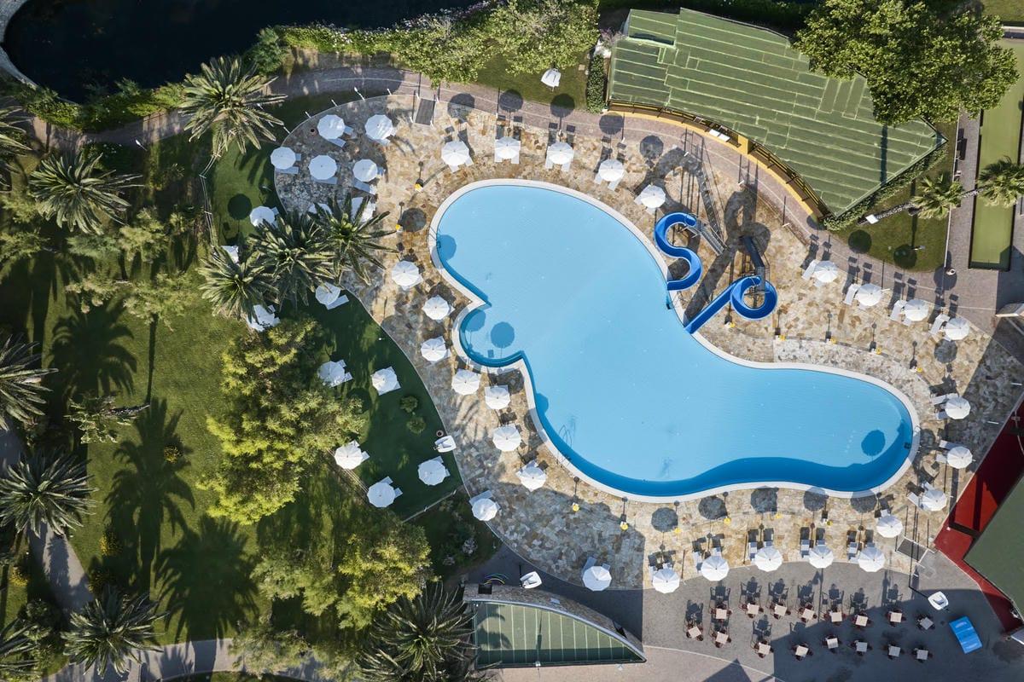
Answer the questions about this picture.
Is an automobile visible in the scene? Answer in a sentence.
No, there appears to be no automobile in this shot.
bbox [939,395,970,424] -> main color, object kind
white umbrella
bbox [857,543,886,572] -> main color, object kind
white umbrella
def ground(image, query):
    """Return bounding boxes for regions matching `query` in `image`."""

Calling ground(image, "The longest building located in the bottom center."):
[472,582,648,672]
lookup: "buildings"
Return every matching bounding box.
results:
[603,5,951,222]
[985,291,1024,319]
[941,472,1024,618]
[472,582,648,672]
